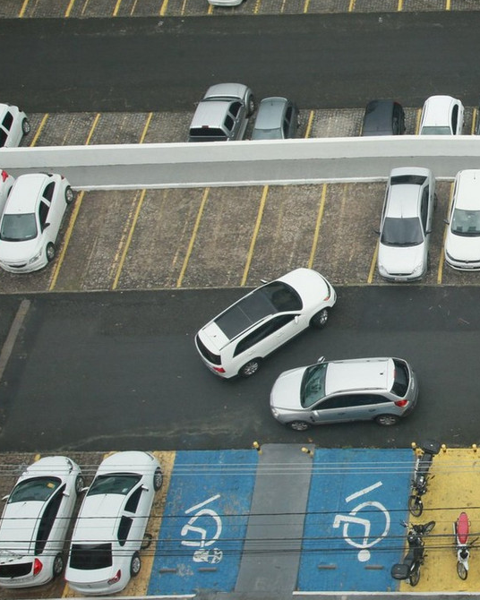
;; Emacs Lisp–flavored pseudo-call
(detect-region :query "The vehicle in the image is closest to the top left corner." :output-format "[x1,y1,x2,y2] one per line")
[0,107,29,147]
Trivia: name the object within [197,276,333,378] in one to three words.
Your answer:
car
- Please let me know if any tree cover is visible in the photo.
No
